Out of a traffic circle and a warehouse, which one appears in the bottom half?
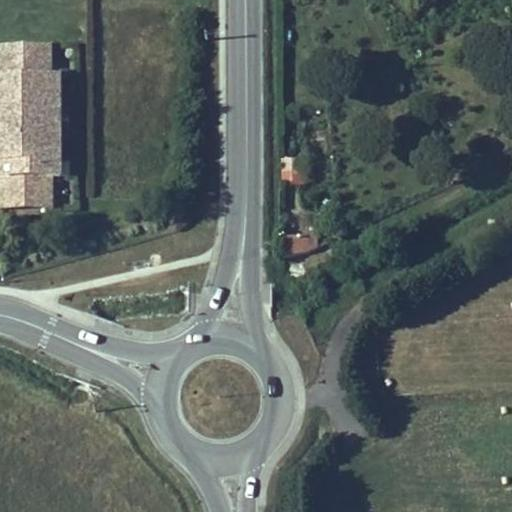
traffic circle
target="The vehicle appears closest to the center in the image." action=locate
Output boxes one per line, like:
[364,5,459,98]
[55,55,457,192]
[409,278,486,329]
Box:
[210,286,225,308]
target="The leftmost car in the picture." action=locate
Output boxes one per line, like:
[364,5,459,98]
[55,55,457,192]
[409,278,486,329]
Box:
[79,331,102,346]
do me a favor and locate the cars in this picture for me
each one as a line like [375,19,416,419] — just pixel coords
[210,286,225,308]
[79,331,102,346]
[268,377,278,398]
[246,476,256,498]
[186,334,204,344]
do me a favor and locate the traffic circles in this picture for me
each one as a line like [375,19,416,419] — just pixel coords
[140,312,296,479]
